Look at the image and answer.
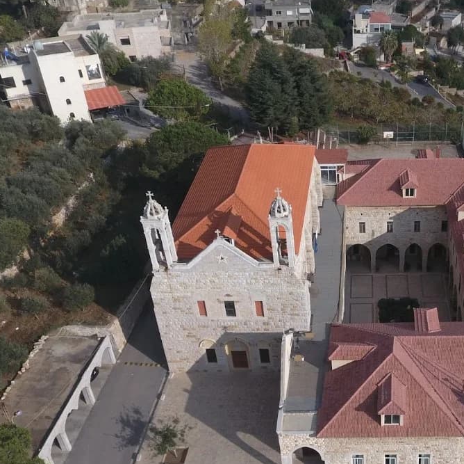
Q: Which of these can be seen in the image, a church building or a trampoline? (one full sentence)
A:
I can see a church building in this picture.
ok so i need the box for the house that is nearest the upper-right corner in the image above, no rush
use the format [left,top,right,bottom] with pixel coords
[435,0,463,26]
